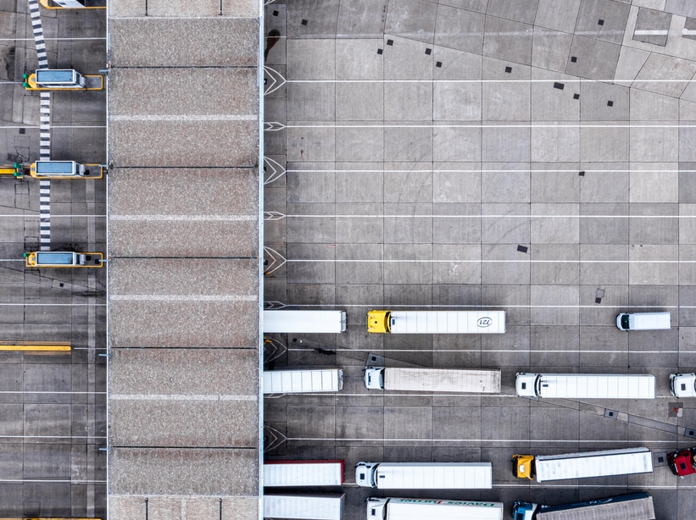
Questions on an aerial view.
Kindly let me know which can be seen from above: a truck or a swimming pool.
truck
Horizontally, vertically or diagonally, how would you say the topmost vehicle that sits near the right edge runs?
horizontally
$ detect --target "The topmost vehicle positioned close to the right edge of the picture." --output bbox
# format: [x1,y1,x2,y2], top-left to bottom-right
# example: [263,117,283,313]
[618,310,672,332]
